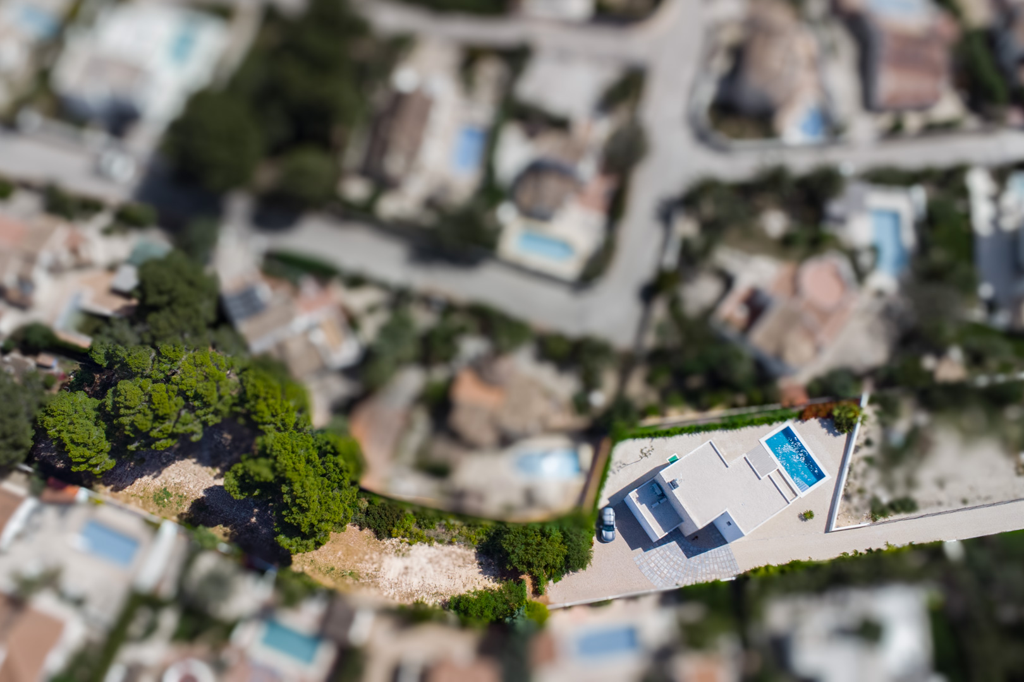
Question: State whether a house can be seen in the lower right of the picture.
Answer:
Yes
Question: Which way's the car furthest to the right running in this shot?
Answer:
up and down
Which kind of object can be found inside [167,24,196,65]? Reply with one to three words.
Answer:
swimming pool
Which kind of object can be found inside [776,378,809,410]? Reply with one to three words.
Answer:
shed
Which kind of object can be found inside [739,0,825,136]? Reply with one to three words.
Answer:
house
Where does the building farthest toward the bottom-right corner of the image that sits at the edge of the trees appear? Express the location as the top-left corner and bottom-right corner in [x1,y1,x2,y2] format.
[765,589,934,682]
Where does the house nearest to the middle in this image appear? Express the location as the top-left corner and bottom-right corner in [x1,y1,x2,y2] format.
[452,357,597,450]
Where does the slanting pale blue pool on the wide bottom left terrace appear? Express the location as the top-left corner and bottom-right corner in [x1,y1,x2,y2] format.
[74,513,145,571]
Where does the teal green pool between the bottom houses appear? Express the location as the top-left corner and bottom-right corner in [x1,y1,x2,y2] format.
[256,612,326,672]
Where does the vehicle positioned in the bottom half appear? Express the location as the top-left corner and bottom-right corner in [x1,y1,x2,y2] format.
[598,505,618,544]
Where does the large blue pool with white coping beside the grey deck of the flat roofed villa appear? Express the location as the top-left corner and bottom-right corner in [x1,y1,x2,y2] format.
[757,420,834,501]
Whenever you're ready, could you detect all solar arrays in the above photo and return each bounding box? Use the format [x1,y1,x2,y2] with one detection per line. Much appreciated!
[228,279,271,320]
